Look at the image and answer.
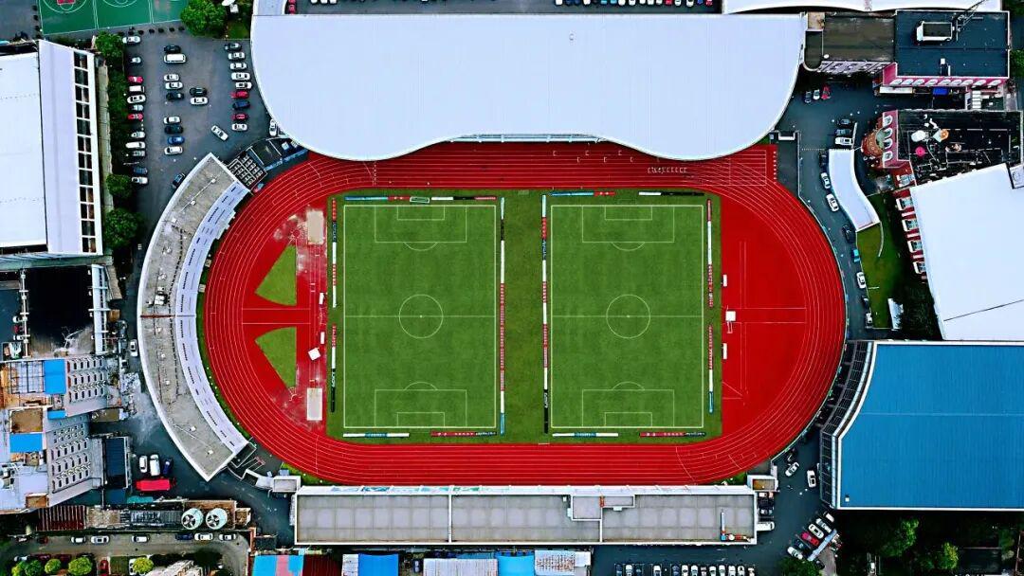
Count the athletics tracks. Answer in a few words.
1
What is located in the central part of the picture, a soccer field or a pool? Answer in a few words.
soccer field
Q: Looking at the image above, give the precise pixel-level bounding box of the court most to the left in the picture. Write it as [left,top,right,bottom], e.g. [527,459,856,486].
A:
[40,0,187,34]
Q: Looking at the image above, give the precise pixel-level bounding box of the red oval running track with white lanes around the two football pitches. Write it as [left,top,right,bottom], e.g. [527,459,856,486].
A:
[205,142,845,485]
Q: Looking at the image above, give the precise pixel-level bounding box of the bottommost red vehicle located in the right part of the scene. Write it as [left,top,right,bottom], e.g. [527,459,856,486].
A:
[801,530,819,546]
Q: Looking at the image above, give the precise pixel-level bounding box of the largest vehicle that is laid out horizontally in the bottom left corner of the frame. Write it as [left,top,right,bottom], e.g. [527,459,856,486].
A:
[136,477,176,489]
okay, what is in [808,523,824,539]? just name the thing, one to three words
car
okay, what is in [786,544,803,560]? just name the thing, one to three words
car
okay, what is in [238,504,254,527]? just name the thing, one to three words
building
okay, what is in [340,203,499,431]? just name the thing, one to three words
soccer field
